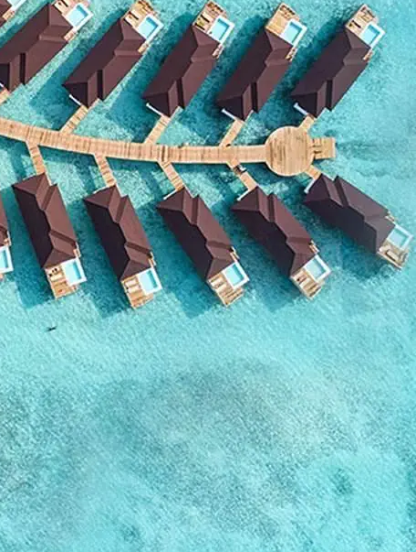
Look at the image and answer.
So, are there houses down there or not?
Yes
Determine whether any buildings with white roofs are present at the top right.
No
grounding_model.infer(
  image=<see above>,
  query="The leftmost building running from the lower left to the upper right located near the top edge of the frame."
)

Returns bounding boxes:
[0,0,93,91]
